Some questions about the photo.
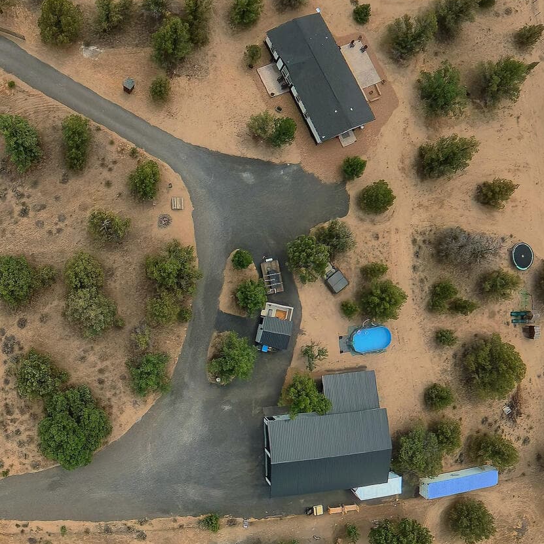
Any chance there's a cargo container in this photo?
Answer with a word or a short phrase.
Yes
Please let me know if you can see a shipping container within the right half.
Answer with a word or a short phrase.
Yes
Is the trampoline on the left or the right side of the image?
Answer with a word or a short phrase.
right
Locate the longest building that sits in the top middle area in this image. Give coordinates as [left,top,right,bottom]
[265,13,375,146]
